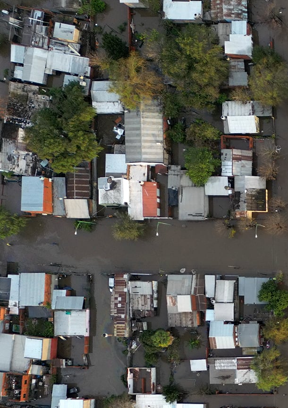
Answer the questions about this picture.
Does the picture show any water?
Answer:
Yes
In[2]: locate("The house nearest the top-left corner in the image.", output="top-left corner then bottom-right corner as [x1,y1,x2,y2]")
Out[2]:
[7,8,54,49]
